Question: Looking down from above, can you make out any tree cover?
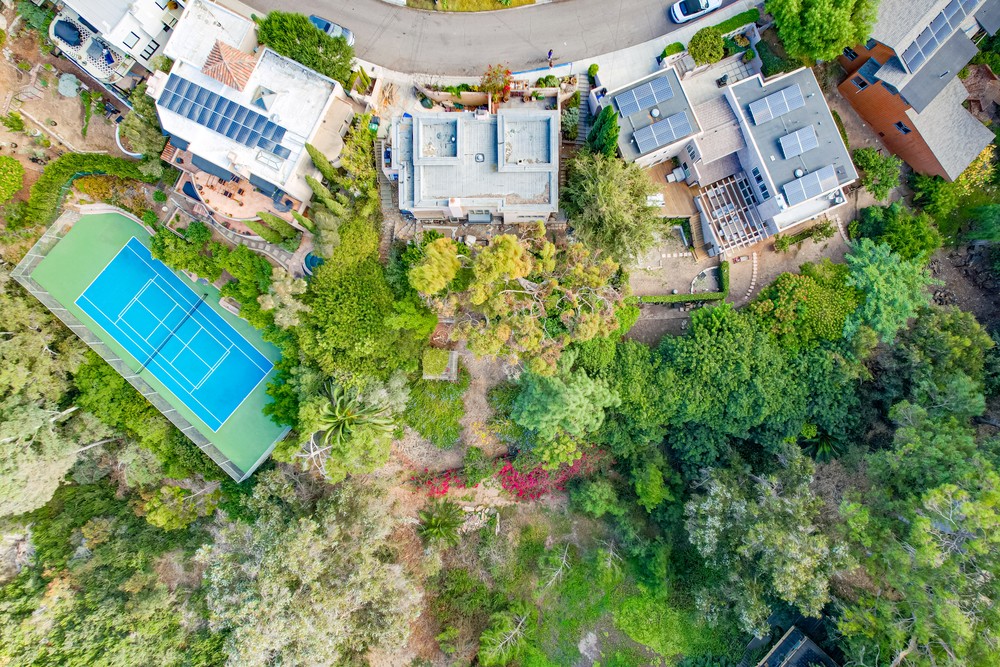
Yes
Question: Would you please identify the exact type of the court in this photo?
tennis court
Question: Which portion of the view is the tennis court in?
left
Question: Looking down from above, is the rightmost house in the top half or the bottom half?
top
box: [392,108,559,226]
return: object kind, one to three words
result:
house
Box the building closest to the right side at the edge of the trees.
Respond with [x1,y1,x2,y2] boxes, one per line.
[842,0,1000,183]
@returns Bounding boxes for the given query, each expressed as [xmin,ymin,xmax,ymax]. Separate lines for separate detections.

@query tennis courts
[31,209,294,470]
